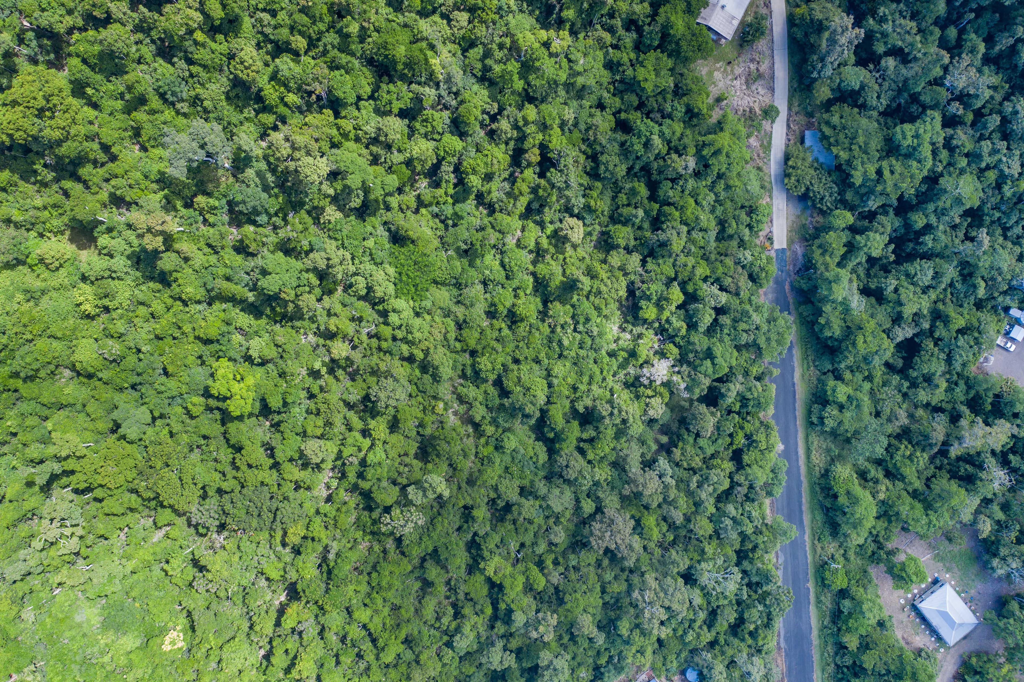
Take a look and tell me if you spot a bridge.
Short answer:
No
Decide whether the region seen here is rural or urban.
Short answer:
rural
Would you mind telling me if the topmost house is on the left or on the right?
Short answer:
right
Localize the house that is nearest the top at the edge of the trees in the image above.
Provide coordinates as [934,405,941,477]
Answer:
[700,0,751,45]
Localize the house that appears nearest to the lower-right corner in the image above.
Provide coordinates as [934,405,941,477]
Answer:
[909,579,979,647]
